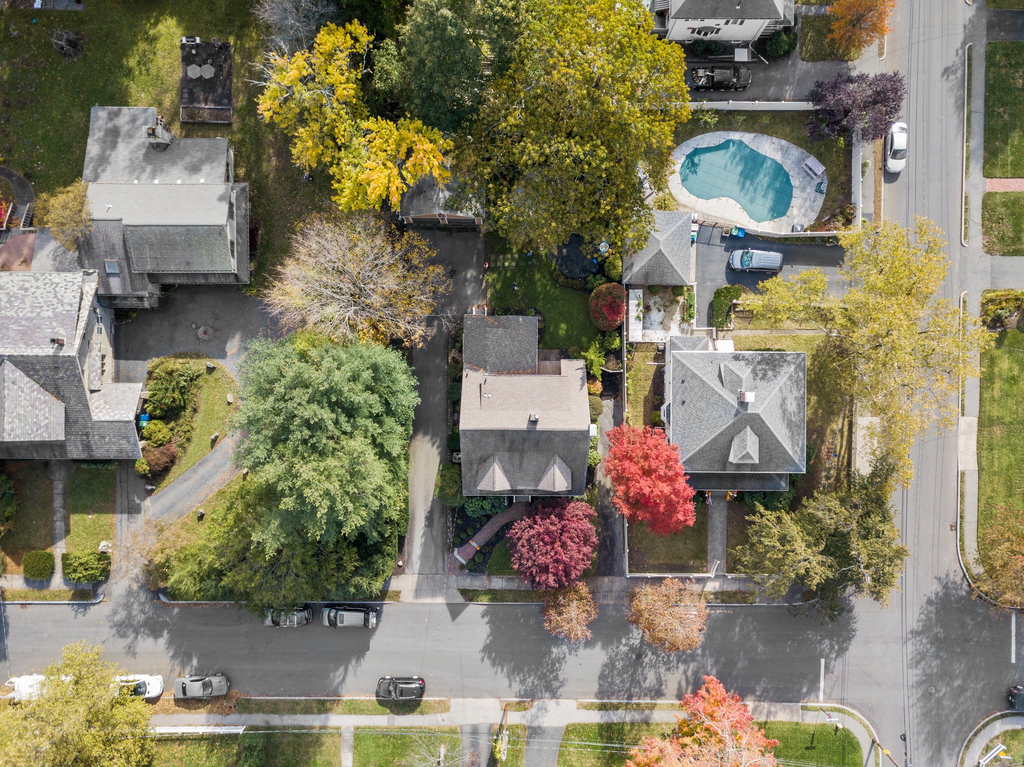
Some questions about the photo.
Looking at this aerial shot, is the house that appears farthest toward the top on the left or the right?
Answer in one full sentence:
You can find the house that appears farthest toward the top on the right side of the picture.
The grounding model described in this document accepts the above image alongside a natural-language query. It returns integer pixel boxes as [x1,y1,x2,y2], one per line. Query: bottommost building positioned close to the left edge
[0,272,151,460]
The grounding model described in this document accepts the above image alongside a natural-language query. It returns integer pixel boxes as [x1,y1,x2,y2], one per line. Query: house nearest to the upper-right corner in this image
[664,0,794,64]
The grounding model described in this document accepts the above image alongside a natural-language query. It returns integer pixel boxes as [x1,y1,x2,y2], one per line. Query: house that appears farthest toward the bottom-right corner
[646,335,808,495]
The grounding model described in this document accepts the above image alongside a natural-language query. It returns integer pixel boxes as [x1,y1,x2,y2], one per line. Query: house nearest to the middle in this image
[460,306,598,504]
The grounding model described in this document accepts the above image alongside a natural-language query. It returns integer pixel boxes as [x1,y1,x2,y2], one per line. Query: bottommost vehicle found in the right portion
[1003,686,1024,714]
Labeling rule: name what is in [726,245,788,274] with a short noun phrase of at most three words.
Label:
vehicle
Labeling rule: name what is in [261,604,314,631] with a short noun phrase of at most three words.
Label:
car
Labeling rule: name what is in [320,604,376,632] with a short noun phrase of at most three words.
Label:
car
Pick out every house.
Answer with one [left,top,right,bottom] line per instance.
[80,106,257,309]
[0,272,151,460]
[664,0,794,64]
[460,306,598,504]
[646,335,808,495]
